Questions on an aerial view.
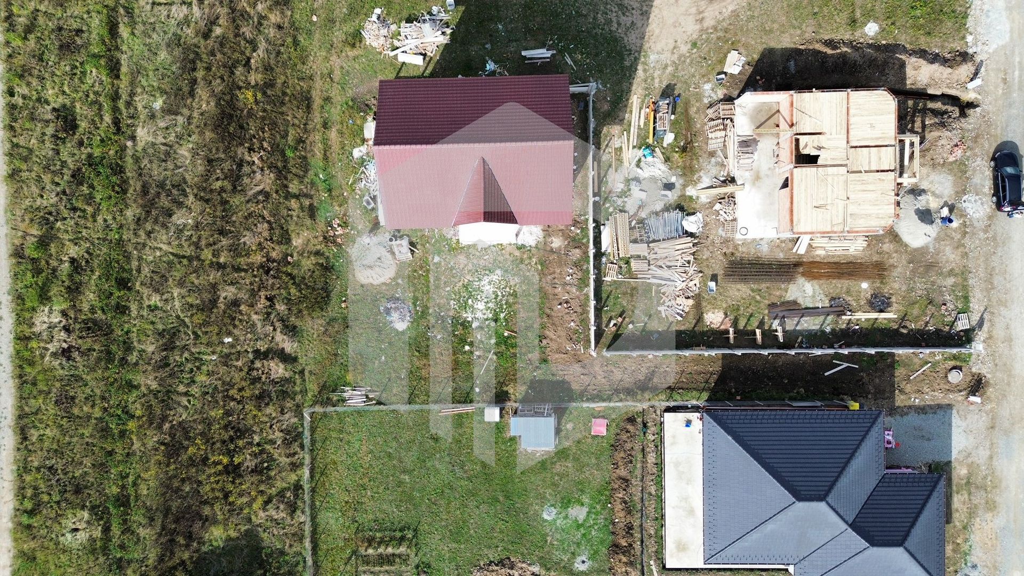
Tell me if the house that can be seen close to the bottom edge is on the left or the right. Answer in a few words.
right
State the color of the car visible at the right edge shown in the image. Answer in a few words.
black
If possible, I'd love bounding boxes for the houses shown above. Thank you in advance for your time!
[734,85,920,239]
[372,74,574,246]
[663,406,947,576]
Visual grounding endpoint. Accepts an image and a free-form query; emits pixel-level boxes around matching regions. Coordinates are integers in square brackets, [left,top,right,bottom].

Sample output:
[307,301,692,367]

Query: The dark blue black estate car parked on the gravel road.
[986,150,1024,213]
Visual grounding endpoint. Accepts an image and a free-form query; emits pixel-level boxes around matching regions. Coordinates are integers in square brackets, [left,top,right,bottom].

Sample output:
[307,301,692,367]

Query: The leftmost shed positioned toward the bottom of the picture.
[510,405,559,447]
